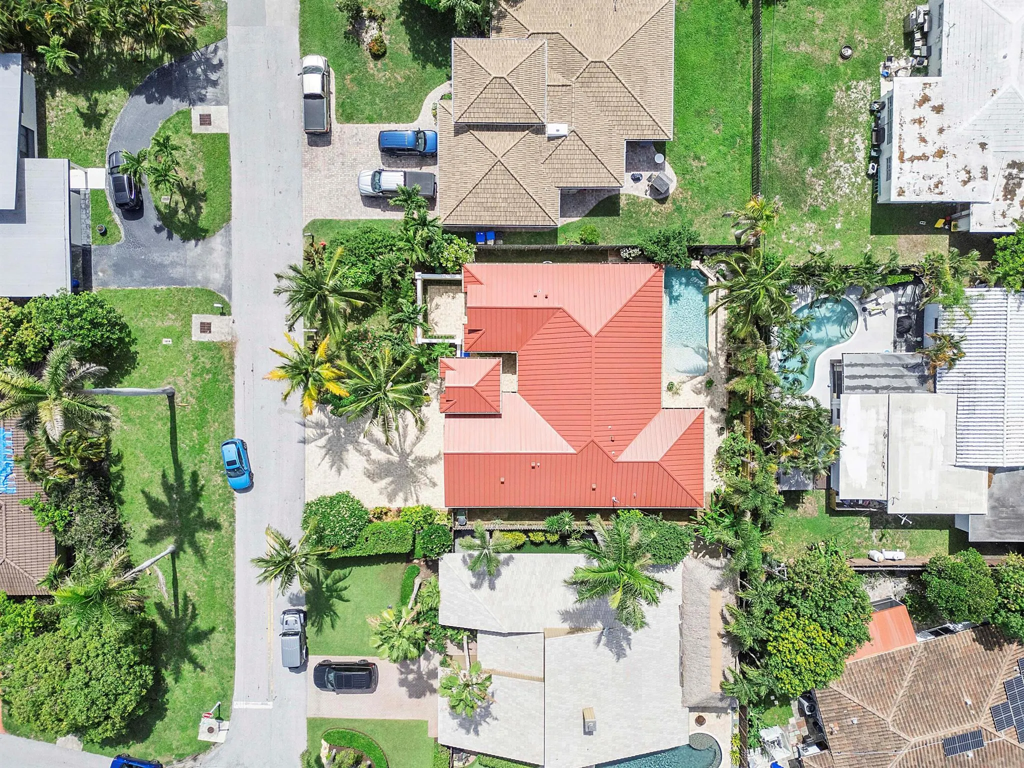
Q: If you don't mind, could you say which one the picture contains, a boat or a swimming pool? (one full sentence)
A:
The one in the frame is a swimming pool.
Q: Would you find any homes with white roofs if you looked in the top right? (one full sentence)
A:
Yes, I can see a home with a white roof in the top right.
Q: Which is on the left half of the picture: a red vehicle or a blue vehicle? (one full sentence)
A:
You can see a blue vehicle on the left half of the picture.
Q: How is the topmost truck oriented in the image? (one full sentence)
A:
The topmost truck has been laid out vertically relative to the frame.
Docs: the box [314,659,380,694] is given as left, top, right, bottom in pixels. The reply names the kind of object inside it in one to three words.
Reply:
car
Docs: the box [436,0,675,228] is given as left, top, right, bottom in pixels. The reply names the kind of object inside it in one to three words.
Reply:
house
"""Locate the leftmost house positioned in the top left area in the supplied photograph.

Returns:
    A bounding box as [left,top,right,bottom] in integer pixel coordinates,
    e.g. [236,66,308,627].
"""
[0,53,106,297]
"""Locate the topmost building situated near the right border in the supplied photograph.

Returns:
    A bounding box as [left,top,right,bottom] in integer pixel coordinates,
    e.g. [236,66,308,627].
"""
[879,0,1024,234]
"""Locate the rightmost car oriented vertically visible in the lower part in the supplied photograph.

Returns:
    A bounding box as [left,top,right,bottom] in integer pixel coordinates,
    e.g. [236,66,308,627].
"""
[277,606,310,674]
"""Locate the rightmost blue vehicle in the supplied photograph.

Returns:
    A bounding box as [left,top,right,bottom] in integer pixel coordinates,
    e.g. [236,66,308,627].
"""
[378,128,436,161]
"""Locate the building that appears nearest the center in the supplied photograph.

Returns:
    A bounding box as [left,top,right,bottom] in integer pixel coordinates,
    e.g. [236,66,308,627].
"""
[438,261,706,510]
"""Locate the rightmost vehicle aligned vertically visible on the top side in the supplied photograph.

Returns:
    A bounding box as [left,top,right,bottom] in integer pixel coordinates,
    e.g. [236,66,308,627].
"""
[298,55,332,136]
